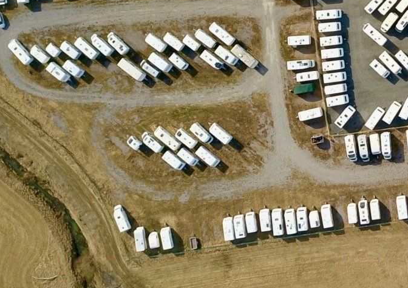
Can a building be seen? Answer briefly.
No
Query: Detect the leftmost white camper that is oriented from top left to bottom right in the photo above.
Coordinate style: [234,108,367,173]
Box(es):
[9,38,34,64]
